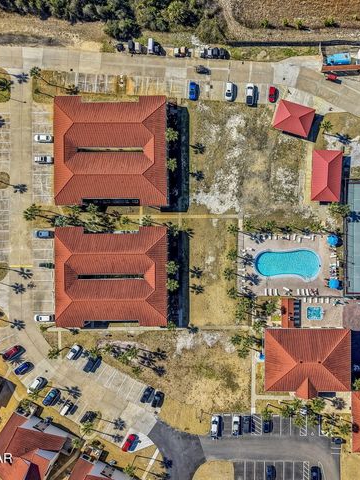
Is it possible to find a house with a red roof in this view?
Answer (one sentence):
Yes, a house with a red roof is visible in the scene.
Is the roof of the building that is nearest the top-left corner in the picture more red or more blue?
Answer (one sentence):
The color of the roof of the building that is nearest the top-left corner is red.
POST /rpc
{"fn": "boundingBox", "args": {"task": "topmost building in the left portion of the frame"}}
[52,96,168,206]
